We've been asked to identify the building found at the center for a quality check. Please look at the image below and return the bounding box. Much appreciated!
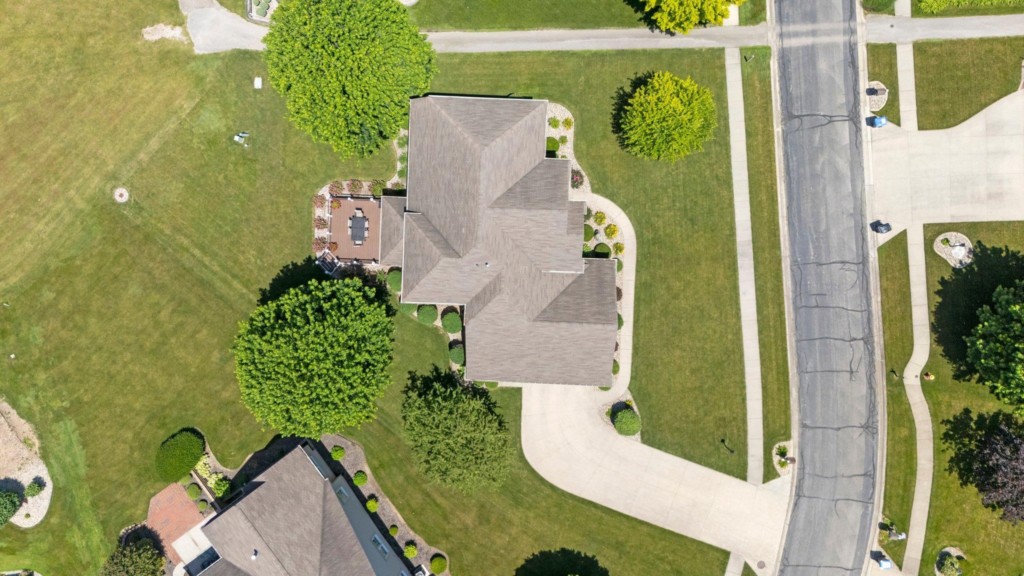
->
[377,94,619,388]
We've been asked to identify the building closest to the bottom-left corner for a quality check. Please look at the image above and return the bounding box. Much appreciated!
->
[194,438,412,576]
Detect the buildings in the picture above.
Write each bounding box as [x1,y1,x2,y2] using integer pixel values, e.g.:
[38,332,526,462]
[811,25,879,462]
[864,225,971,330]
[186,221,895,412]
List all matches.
[377,94,619,388]
[194,438,412,576]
